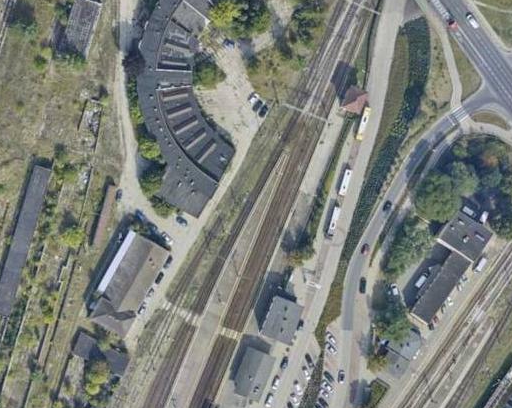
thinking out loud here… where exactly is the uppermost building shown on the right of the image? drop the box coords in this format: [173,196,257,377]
[341,85,367,114]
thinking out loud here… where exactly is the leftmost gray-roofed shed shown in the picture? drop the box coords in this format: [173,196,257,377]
[0,166,54,318]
